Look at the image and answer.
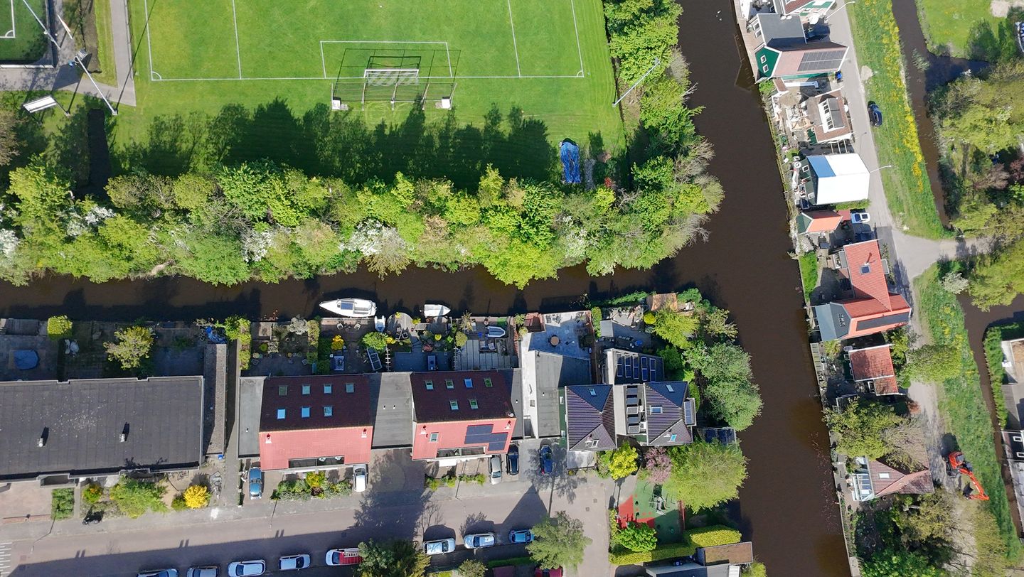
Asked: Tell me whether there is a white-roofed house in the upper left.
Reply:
No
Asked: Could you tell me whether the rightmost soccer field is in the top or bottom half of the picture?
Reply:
top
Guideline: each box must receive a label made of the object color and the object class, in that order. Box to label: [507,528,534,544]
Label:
blue car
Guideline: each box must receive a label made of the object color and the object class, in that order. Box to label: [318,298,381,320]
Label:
white boat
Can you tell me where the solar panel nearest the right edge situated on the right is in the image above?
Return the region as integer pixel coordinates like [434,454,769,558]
[857,313,912,333]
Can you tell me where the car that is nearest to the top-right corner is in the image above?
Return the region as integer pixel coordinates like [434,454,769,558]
[866,103,883,126]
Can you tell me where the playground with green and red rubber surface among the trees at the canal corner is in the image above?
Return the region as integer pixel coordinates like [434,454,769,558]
[618,478,685,543]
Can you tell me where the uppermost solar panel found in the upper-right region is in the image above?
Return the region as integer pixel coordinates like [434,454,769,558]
[799,50,847,72]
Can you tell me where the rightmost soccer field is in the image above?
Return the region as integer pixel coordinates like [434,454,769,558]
[136,0,620,151]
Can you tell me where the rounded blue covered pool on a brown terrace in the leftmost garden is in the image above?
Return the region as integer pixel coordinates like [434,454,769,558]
[8,348,45,372]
